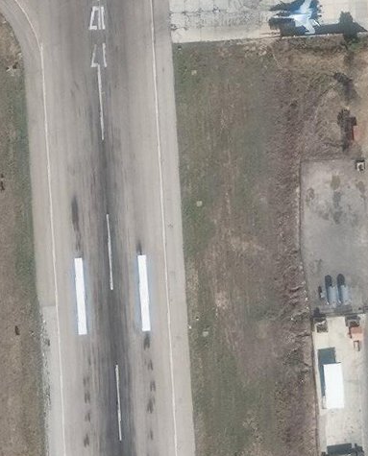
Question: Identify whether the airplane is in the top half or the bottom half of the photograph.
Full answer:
The airplane is in the top half of the image.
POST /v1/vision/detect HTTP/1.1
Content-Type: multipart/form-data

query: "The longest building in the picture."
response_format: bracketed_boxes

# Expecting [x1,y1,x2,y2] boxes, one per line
[324,363,343,413]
